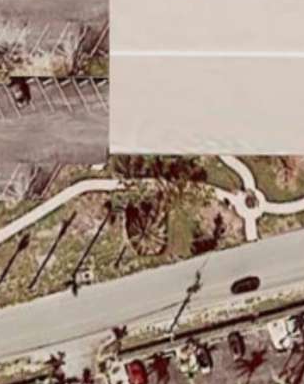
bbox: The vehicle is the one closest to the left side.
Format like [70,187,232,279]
[10,76,29,104]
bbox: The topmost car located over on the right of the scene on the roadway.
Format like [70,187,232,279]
[230,276,259,293]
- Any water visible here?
No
